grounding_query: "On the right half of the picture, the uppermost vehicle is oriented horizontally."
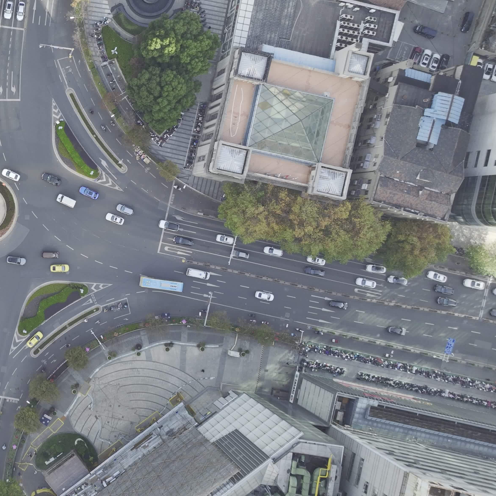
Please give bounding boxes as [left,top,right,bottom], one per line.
[413,24,442,39]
